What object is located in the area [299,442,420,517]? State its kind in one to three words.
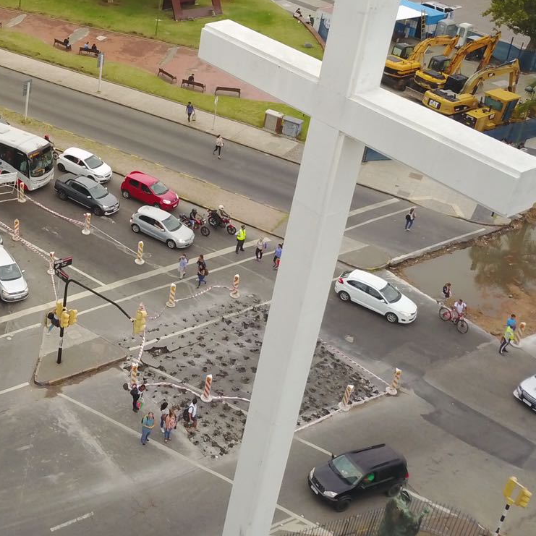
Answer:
car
